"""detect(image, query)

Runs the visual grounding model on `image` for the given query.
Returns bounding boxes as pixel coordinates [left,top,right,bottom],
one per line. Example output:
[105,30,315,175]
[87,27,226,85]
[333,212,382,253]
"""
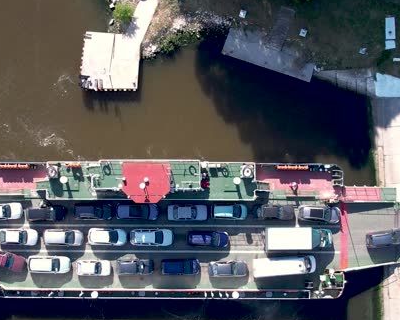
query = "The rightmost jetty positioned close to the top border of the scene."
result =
[222,6,313,83]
